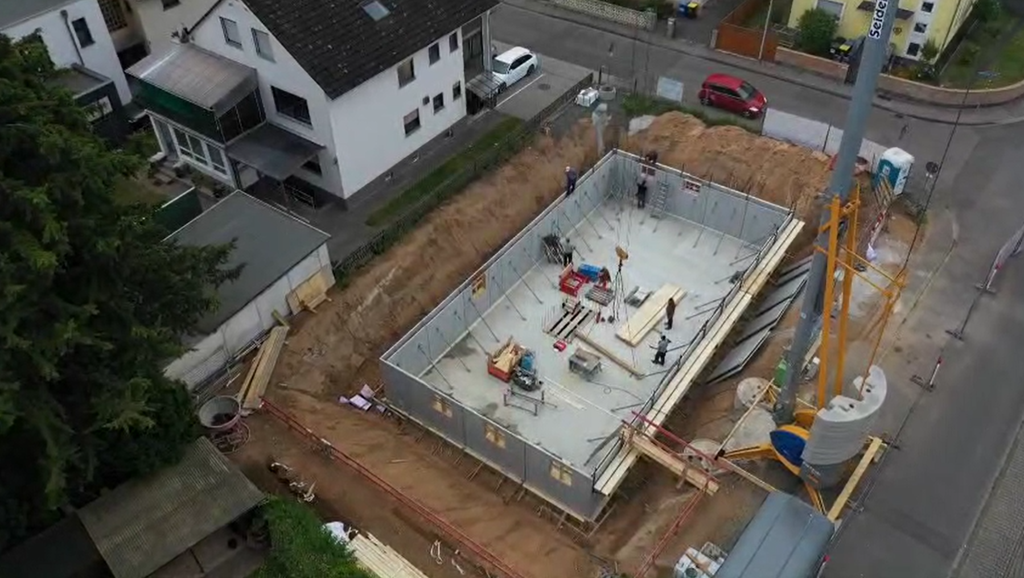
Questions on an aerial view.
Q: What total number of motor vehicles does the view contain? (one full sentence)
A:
I count 2 motor vehicles.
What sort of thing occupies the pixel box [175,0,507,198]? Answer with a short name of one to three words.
house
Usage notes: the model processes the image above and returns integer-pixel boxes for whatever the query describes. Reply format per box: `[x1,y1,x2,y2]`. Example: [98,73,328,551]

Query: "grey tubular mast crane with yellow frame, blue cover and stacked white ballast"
[710,0,979,517]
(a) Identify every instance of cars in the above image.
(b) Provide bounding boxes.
[485,49,534,94]
[705,76,772,116]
